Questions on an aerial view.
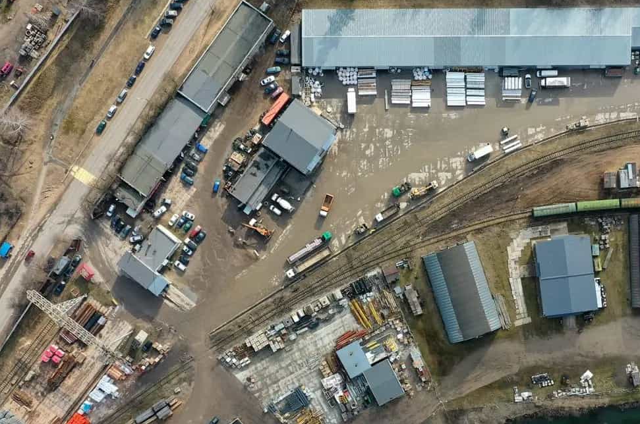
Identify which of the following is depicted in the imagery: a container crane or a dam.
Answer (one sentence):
I can see a container crane in this picture.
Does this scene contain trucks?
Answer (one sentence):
Yes, I can see a truck in this picture.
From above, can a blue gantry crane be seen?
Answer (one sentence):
No, no blue gantry crane is visible in the view.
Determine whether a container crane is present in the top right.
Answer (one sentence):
No, I can find no container crane in the top right.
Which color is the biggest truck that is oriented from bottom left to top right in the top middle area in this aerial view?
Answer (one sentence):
The biggest truck that is oriented from bottom left to top right in the top middle area is red.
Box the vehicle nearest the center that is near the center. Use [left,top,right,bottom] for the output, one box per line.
[320,193,333,217]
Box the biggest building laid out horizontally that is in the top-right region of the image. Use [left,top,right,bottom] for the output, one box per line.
[302,8,632,71]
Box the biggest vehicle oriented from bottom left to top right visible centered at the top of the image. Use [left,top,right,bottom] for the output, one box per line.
[258,92,291,125]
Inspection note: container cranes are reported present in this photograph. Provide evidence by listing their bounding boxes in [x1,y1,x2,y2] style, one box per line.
[25,292,141,367]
